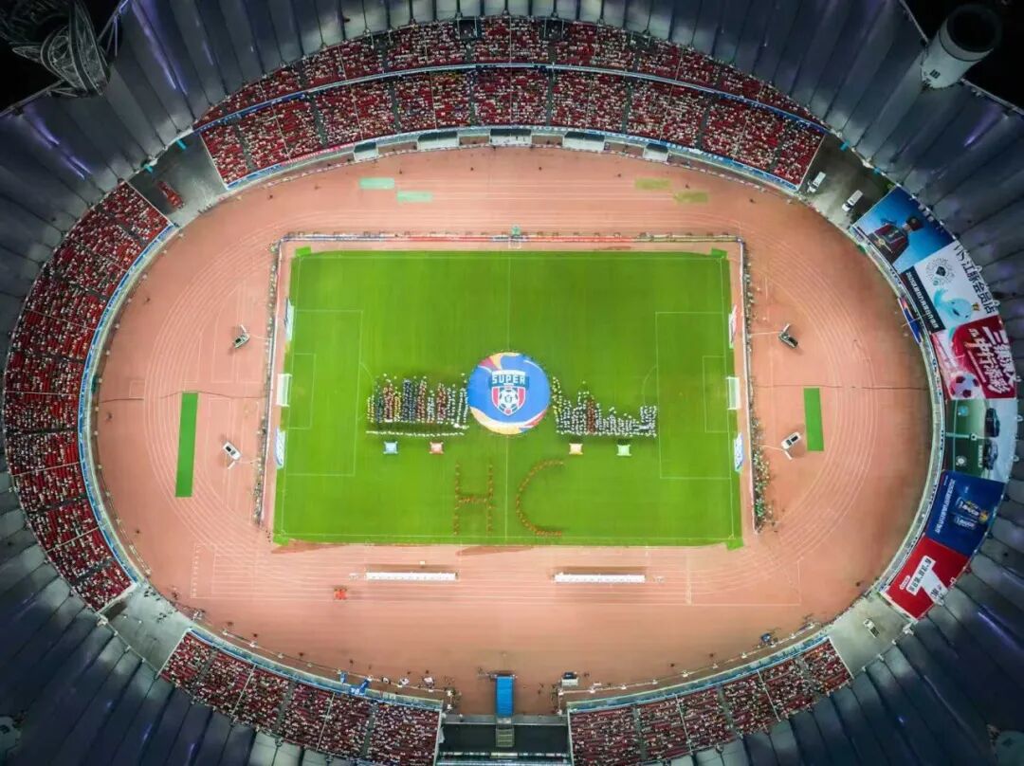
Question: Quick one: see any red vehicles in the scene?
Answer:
Yes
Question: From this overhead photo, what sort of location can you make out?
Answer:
sports ground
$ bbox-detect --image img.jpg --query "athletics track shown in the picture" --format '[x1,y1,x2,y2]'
[93,136,933,714]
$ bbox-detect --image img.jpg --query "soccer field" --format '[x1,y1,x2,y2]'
[273,247,743,550]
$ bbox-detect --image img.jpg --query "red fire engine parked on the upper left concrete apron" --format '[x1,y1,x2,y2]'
[153,175,181,208]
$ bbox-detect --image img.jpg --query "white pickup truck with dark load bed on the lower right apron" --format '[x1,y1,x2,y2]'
[862,617,885,640]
